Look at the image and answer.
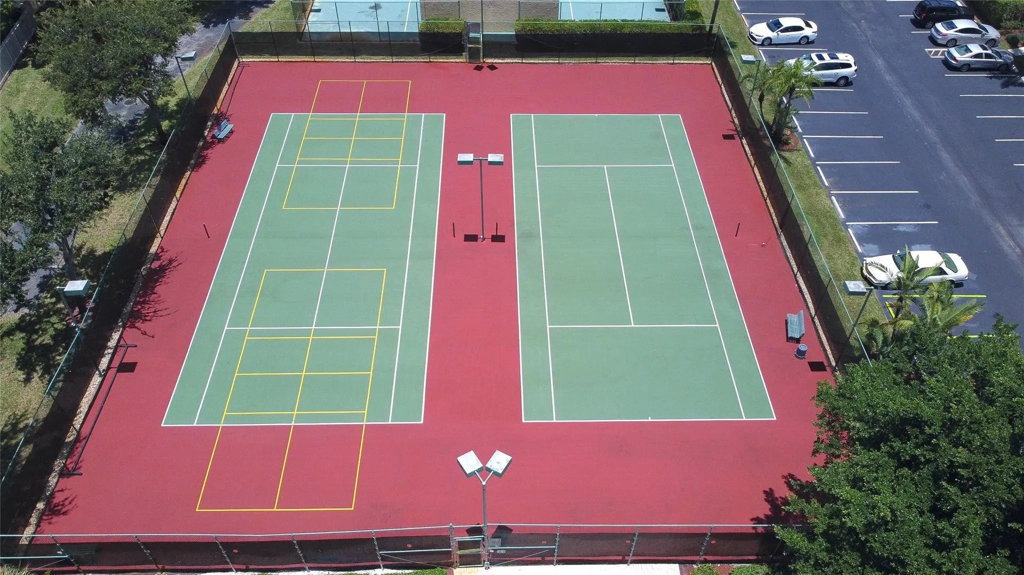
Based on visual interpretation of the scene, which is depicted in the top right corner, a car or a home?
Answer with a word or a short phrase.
car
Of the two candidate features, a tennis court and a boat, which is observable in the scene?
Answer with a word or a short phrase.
tennis court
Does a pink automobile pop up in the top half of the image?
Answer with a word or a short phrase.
No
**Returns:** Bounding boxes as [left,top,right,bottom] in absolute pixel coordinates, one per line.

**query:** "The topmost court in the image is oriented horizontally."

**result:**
[303,0,670,42]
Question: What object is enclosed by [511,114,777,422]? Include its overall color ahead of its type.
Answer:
green tennis court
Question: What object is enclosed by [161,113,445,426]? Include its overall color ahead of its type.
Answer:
green tennis court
